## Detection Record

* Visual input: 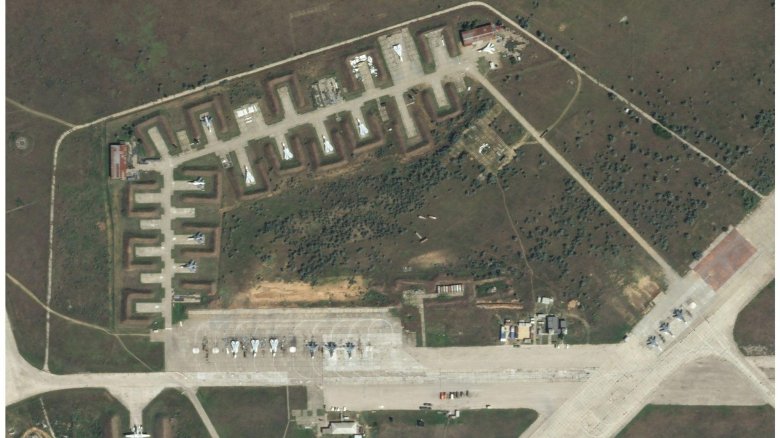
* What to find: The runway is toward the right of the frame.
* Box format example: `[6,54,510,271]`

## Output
[521,186,780,438]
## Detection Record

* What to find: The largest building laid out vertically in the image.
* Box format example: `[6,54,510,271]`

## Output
[110,145,127,179]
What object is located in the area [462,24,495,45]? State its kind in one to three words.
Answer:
hangar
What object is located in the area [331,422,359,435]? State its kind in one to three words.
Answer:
building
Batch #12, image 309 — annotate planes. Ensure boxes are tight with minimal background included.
[306,340,318,356]
[360,120,369,137]
[660,321,673,337]
[270,340,278,357]
[181,261,197,273]
[478,43,496,51]
[344,340,356,357]
[190,178,206,190]
[325,340,337,356]
[647,335,660,350]
[394,43,402,59]
[284,144,292,161]
[232,340,239,356]
[247,168,255,184]
[124,428,150,438]
[324,136,334,153]
[251,340,259,357]
[190,233,206,245]
[673,308,686,322]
